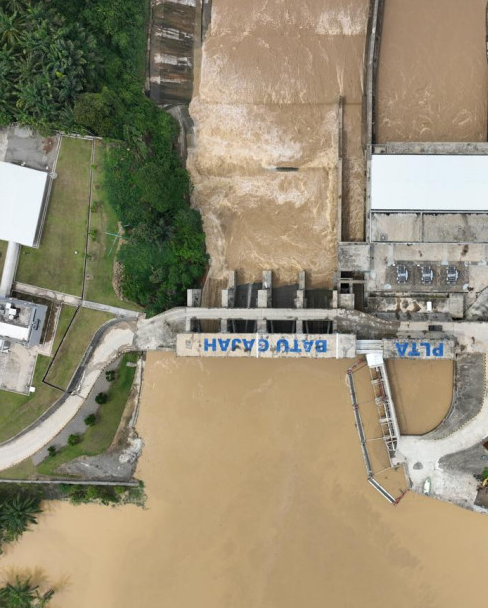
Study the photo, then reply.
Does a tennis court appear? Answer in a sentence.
No, I can see no tennis court in this picture.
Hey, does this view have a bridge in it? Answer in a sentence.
Yes, there's a bridge here.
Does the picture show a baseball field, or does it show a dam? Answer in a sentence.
The one in the frame is a dam.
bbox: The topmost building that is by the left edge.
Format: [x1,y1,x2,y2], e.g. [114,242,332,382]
[0,163,54,246]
